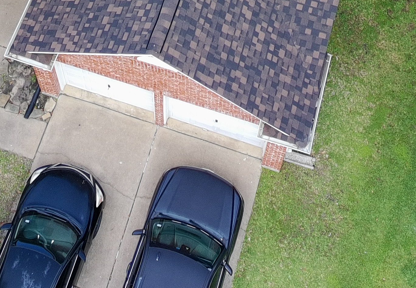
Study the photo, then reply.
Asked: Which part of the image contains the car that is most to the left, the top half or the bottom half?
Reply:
bottom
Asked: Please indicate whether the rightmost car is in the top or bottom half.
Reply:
bottom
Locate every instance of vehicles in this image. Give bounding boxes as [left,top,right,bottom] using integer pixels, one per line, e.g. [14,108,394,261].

[0,159,107,288]
[125,155,242,288]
